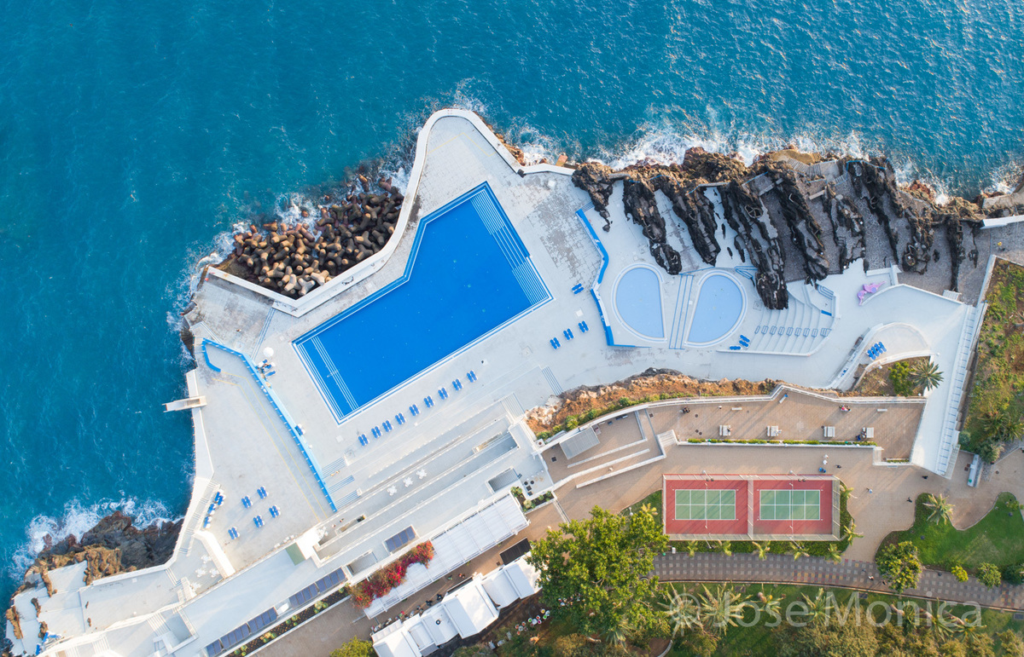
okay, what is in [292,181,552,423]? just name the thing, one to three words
swimming pool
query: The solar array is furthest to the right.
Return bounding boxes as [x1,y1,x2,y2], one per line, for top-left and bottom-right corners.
[386,528,415,552]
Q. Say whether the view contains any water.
Yes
